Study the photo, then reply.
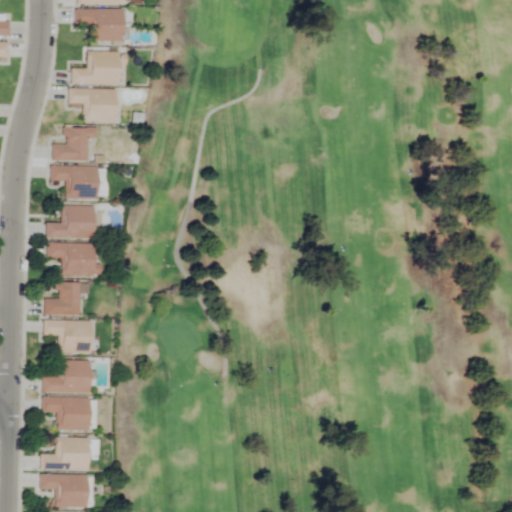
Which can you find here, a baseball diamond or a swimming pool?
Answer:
swimming pool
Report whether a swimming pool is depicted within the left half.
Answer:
Yes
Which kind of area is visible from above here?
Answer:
golf course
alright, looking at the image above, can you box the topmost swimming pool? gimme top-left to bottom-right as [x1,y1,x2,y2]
[124,28,157,47]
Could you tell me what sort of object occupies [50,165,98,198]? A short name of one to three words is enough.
house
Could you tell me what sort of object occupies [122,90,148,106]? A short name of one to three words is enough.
swimming pool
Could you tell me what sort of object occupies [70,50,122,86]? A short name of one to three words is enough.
house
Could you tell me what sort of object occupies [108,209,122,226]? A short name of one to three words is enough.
swimming pool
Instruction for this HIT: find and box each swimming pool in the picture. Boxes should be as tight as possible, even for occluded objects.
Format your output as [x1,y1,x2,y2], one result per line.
[124,28,157,47]
[108,209,122,226]
[122,90,148,106]
[96,362,108,386]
